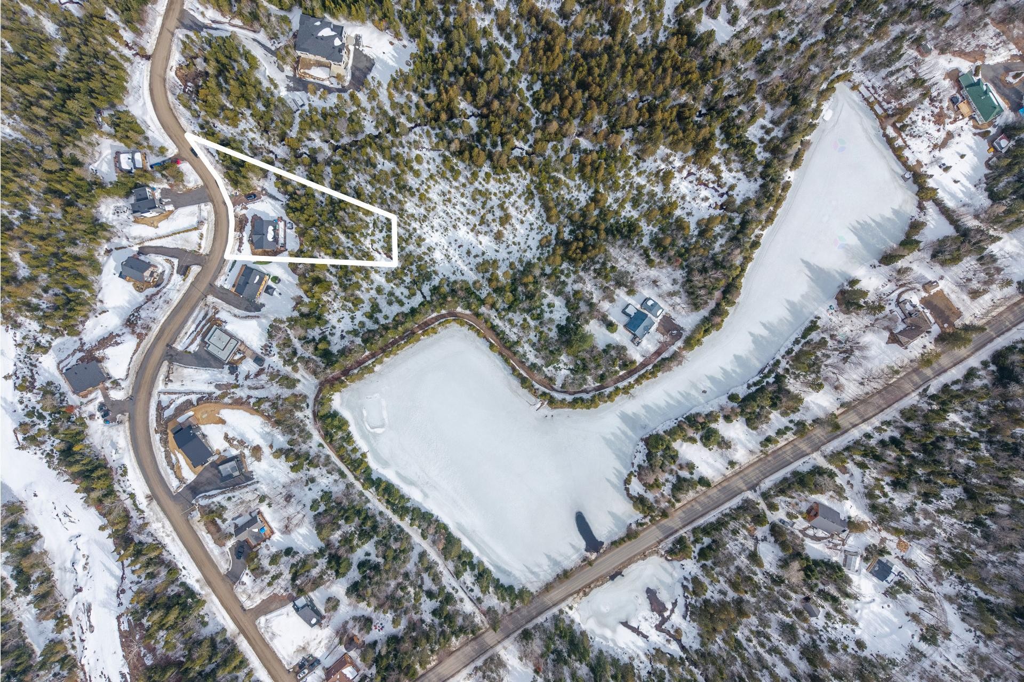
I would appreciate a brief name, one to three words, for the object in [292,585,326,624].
house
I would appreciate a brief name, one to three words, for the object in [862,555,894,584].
building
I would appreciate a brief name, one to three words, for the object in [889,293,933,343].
house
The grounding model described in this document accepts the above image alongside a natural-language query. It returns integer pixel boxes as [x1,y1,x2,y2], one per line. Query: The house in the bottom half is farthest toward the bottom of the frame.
[320,651,367,682]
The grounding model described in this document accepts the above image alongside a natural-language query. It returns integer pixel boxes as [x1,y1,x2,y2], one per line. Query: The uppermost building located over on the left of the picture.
[294,15,357,86]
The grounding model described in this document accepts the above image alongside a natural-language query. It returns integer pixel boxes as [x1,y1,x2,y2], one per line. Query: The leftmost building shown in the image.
[65,362,110,395]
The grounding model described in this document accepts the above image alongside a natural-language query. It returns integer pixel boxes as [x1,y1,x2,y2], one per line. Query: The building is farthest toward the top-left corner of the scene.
[114,151,151,174]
